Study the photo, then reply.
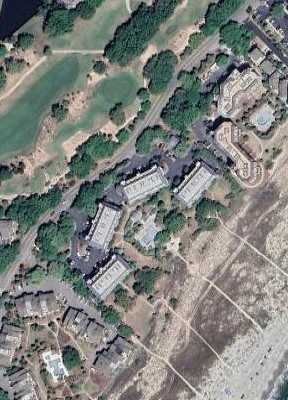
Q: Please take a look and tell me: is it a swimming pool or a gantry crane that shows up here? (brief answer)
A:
swimming pool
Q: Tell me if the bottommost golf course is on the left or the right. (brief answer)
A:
left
